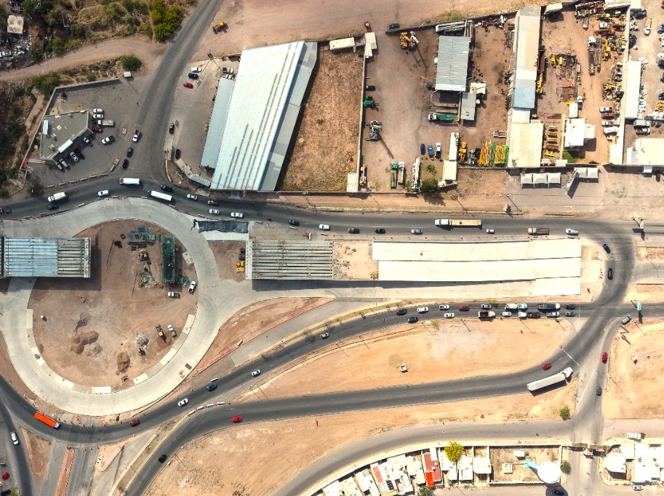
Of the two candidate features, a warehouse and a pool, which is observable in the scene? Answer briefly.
warehouse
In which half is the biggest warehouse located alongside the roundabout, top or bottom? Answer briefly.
top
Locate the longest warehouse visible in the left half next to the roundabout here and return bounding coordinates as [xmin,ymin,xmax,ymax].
[200,42,317,193]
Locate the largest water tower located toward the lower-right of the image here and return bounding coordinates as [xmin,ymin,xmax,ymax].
[524,460,562,485]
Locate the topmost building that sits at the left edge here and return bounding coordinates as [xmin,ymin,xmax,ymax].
[7,16,24,36]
